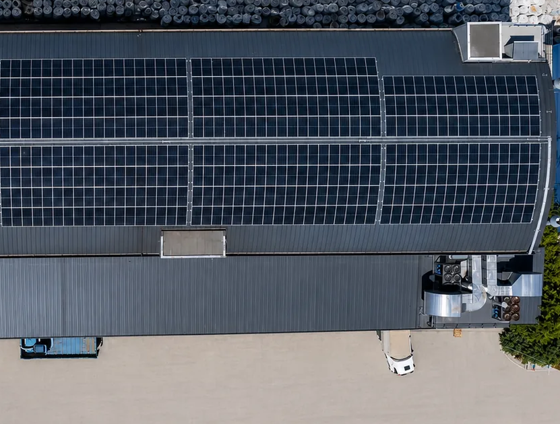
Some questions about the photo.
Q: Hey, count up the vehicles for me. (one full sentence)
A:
The photo contains 2 vehicles.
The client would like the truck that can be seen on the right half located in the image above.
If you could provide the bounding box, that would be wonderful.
[387,331,416,376]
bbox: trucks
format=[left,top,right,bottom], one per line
[387,331,416,376]
[20,338,97,359]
